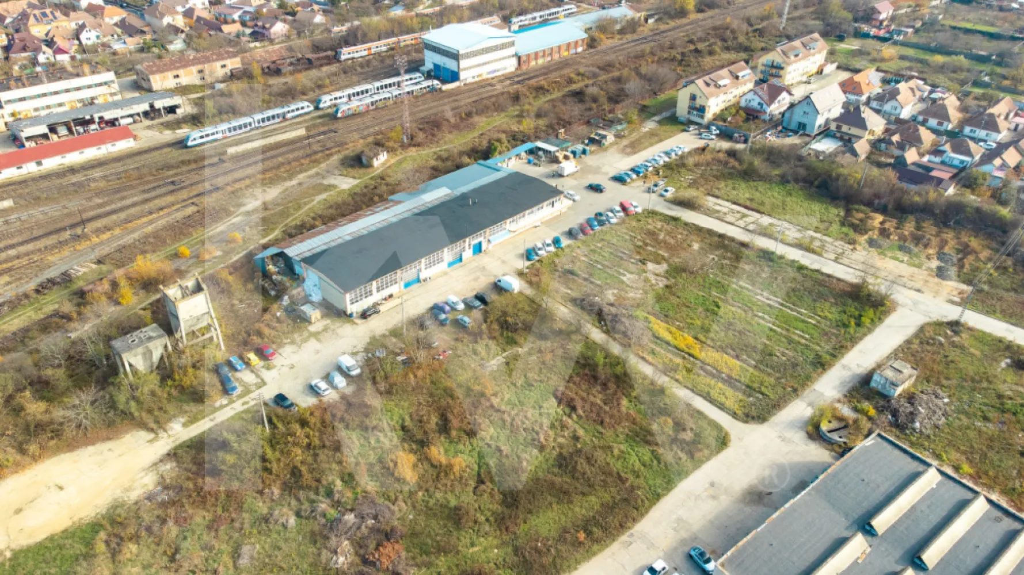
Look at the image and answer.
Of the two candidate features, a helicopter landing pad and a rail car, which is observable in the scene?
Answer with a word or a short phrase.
rail car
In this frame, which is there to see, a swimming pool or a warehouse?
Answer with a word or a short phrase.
warehouse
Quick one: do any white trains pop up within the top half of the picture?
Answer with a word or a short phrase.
Yes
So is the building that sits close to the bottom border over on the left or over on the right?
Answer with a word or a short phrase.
right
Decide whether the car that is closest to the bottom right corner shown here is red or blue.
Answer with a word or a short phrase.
blue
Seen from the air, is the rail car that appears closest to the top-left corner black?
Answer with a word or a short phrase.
No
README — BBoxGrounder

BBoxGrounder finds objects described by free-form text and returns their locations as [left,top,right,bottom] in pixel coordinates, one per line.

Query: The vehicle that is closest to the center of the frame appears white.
[494,275,522,295]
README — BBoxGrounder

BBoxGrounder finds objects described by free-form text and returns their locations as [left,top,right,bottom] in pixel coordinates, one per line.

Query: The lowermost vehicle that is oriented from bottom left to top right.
[640,552,675,575]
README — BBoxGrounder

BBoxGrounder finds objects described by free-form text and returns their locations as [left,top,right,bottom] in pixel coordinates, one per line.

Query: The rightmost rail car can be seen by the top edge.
[514,6,576,29]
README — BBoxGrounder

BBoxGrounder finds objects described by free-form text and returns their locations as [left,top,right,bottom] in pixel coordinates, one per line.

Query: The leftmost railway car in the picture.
[184,98,317,144]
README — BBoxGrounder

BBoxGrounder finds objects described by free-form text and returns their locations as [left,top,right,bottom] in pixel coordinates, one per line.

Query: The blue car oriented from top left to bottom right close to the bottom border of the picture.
[685,544,719,575]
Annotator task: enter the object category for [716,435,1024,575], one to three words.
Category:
building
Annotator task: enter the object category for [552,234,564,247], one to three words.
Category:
vehicle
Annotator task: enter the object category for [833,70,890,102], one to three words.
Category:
house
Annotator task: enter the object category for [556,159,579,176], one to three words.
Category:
vehicle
